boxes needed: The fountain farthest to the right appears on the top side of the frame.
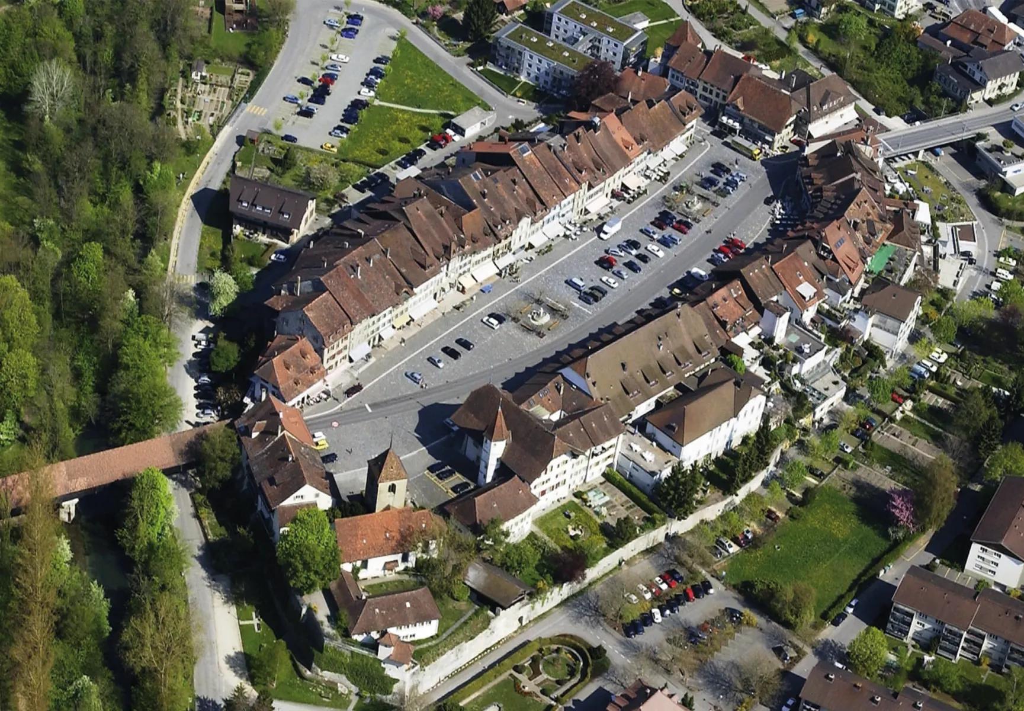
[675,190,702,214]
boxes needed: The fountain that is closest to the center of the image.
[522,302,551,327]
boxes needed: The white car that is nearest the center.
[481,316,500,329]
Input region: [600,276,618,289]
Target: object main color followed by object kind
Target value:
white vehicle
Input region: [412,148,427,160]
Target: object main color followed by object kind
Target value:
black vehicle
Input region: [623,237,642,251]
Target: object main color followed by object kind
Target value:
black car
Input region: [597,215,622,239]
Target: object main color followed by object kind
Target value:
white truck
